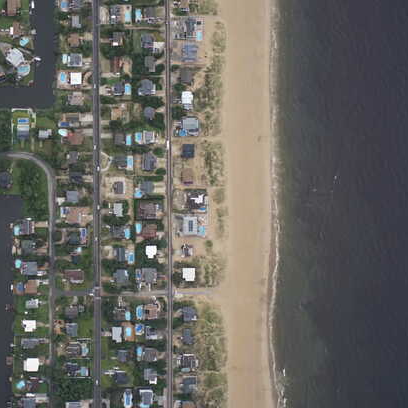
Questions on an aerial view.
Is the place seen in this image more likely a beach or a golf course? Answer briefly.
beach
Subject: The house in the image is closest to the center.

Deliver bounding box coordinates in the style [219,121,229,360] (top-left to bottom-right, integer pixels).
[187,189,204,211]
